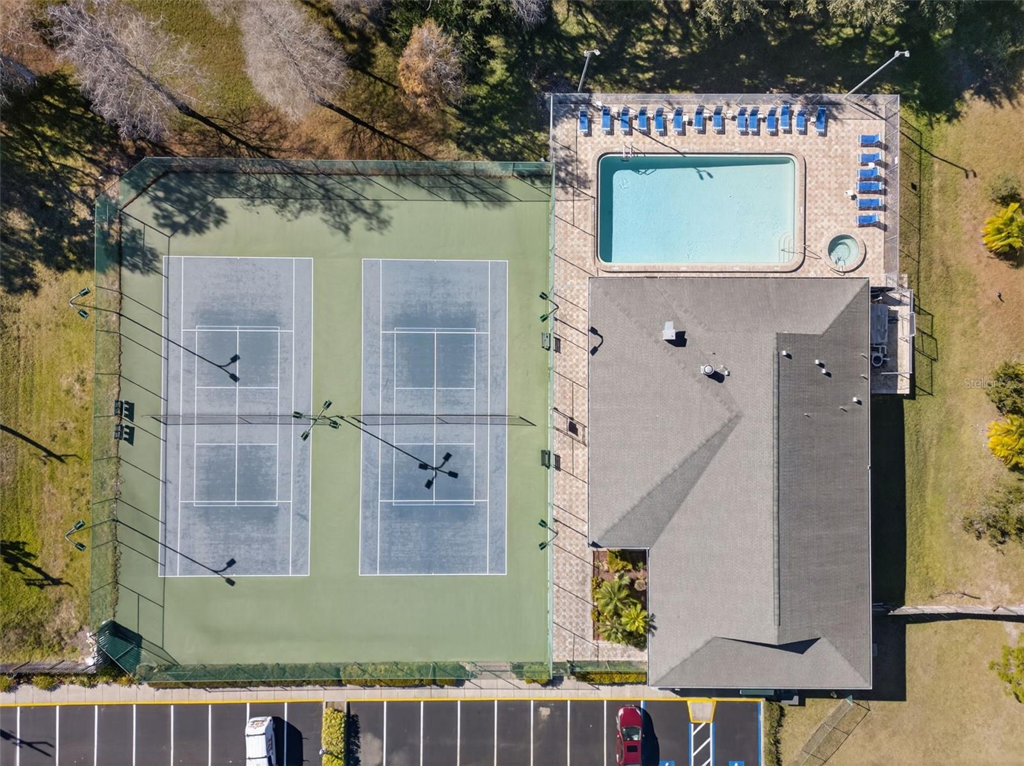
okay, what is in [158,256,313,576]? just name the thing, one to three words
tennis court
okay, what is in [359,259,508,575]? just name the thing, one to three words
tennis court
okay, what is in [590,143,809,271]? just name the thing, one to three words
swimming pool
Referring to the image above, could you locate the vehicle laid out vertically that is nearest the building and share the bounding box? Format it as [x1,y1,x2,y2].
[617,705,646,766]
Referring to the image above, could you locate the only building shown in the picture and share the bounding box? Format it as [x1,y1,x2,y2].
[587,276,873,696]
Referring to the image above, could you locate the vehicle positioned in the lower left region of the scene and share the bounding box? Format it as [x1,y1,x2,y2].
[243,716,279,766]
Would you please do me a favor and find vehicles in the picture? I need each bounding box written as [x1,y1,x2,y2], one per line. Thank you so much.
[243,716,279,766]
[617,705,646,766]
